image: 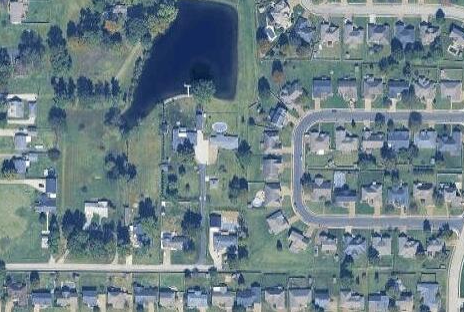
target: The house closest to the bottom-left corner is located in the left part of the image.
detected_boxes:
[8,281,28,305]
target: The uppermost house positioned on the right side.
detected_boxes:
[267,0,296,26]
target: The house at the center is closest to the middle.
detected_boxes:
[210,135,238,149]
